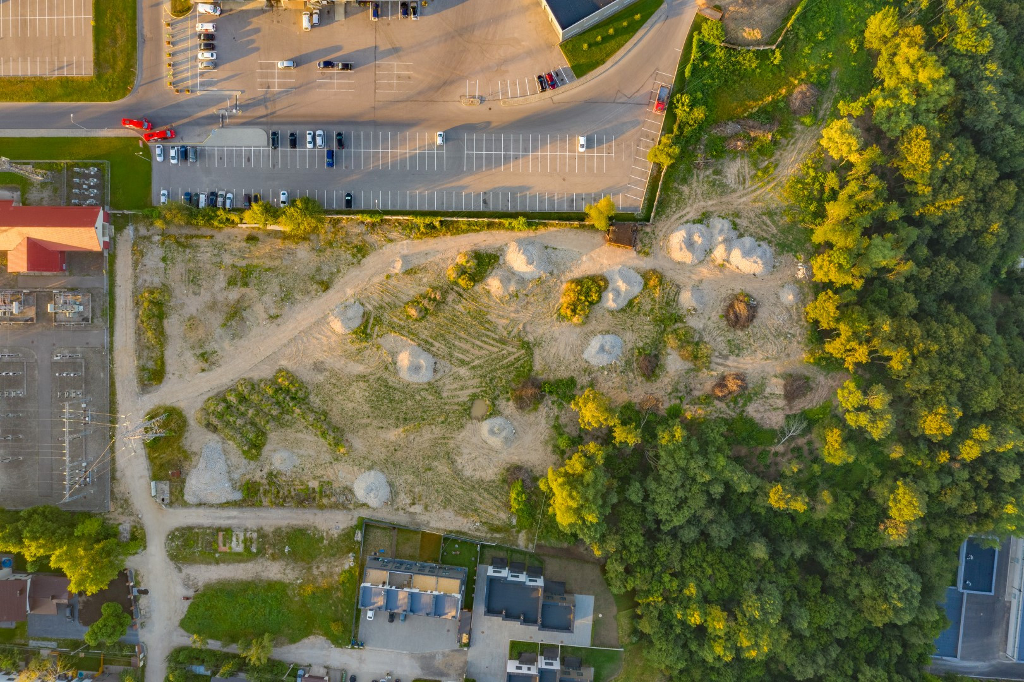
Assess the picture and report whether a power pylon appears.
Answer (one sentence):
Yes, this view includes a power pylon.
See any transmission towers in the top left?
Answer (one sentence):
Yes, a transmission tower is visible in the top left.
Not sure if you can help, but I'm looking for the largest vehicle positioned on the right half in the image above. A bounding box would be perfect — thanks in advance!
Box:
[653,81,671,116]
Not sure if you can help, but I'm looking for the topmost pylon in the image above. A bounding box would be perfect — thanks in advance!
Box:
[0,147,53,184]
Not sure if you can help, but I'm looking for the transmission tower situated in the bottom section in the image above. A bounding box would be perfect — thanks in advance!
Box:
[106,408,175,452]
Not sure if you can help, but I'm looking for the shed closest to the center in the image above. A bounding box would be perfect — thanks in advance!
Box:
[606,226,634,248]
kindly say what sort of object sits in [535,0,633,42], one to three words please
building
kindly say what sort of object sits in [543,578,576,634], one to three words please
house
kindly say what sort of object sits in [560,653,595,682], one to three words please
house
